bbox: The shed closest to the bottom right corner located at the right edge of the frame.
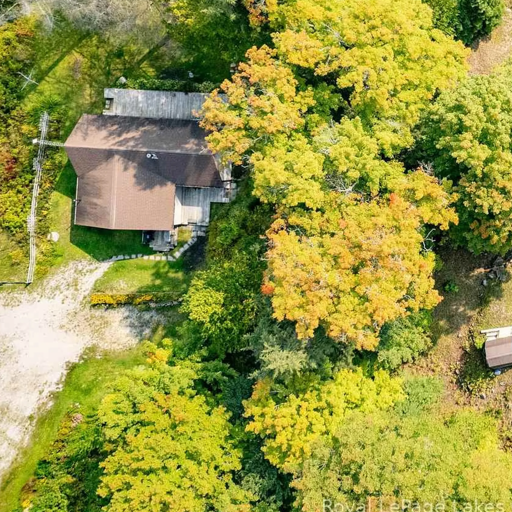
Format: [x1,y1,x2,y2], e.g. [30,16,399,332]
[486,328,512,367]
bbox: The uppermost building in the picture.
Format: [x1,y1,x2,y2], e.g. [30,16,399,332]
[64,114,230,230]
